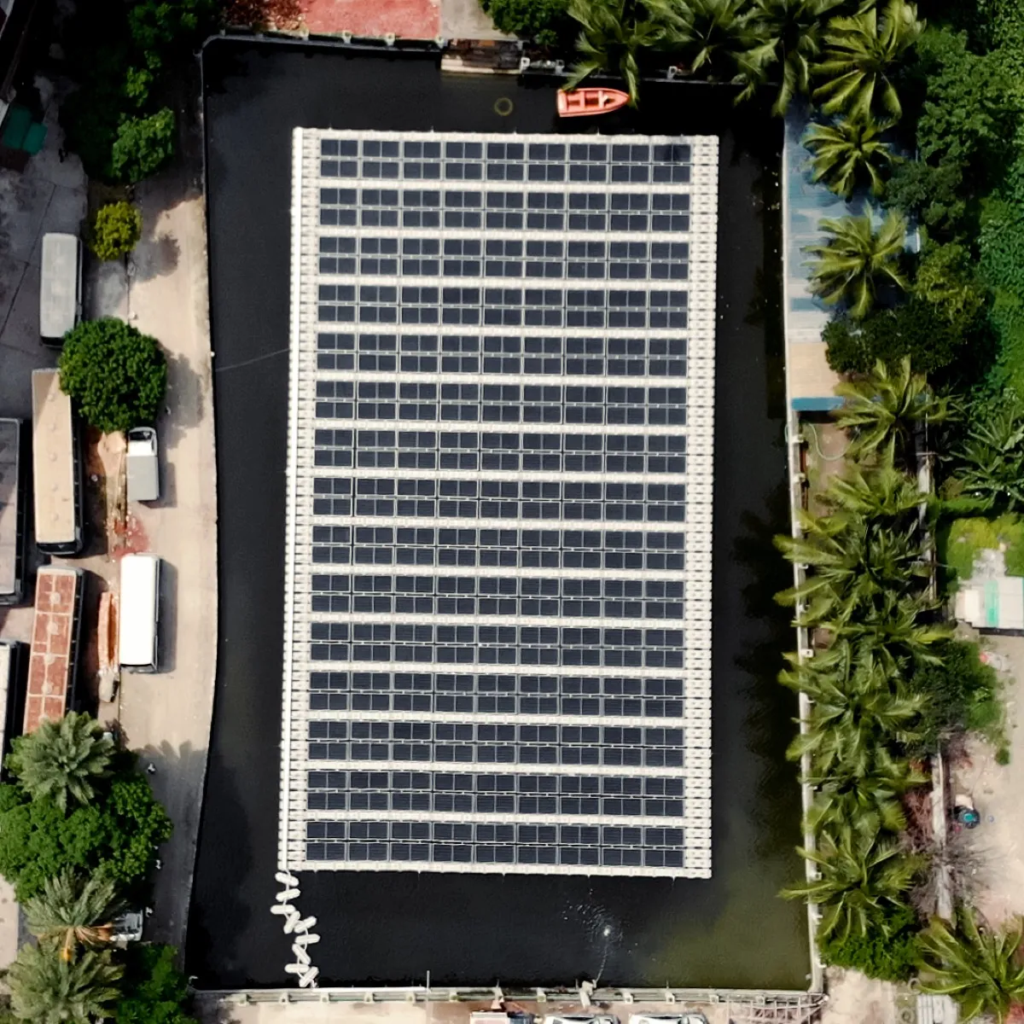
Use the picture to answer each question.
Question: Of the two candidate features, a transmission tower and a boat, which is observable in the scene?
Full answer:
This aerial view contains a boat.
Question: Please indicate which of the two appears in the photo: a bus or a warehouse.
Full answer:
The image shows a bus.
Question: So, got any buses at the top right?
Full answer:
No, at the top right there is no bus.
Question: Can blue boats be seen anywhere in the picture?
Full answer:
No, I can see no blue boat in this picture.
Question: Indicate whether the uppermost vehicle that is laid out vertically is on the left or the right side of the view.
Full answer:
The uppermost vehicle that is laid out vertically sits on the left side.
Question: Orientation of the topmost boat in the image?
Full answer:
In this picture, the topmost boat lies from left to right.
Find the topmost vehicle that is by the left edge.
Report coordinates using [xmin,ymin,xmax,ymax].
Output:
[42,234,89,351]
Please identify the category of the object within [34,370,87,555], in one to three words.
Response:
bus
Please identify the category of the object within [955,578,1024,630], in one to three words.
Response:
shed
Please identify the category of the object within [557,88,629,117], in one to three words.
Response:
boat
